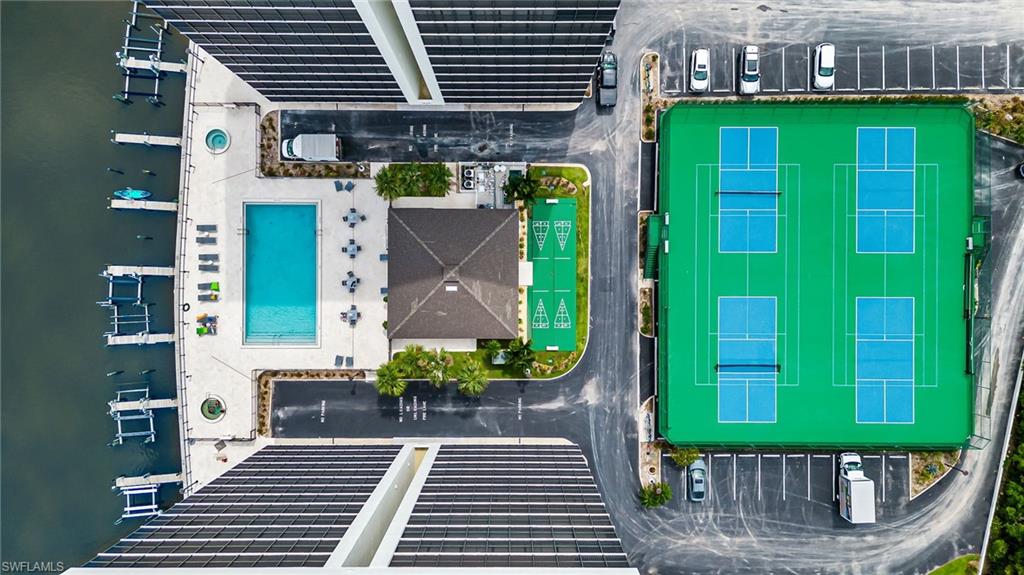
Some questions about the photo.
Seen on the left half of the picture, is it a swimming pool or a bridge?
swimming pool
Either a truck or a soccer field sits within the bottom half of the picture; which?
truck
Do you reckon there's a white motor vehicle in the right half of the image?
Yes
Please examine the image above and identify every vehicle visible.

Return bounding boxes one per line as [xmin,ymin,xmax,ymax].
[689,48,711,92]
[812,45,836,91]
[738,47,761,94]
[603,23,613,47]
[597,52,619,107]
[839,451,875,524]
[687,457,709,502]
[282,134,345,162]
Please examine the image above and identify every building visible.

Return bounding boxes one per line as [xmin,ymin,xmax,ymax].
[387,207,532,339]
[142,0,621,105]
[64,444,641,575]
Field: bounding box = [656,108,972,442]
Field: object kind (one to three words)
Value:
sports court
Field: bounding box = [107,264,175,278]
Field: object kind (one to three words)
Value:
pier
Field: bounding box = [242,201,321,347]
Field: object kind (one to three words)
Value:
swimming pool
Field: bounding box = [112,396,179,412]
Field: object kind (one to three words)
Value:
pier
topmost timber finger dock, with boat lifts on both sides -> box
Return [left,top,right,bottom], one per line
[126,58,188,76]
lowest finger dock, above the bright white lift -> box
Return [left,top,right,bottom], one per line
[116,470,183,490]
